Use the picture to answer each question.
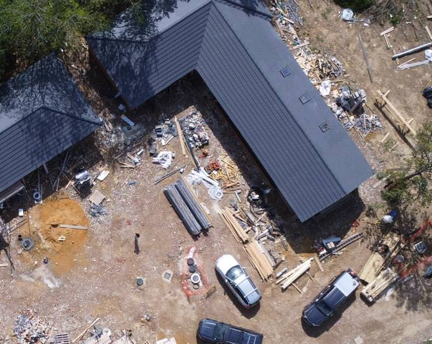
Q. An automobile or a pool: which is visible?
automobile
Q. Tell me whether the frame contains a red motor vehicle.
No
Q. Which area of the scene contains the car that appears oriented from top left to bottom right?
bottom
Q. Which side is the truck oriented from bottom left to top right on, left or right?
right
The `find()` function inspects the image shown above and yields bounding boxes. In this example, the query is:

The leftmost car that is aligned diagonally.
[214,251,263,312]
